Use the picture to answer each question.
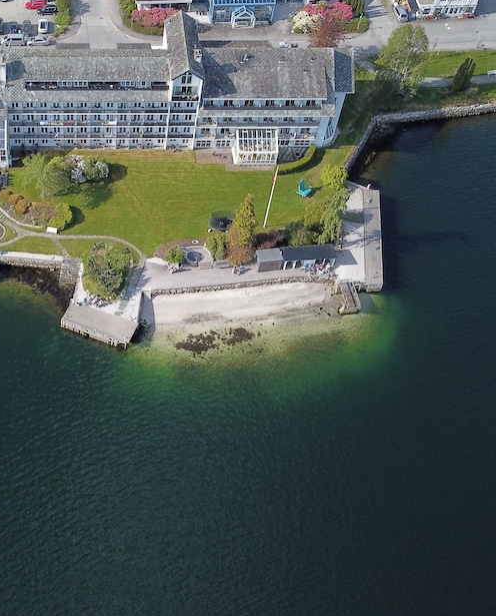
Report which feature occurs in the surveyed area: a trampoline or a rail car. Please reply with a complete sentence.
There is a trampoline in the scene.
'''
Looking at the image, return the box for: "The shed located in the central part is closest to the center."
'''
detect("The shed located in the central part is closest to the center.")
[254,246,284,271]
